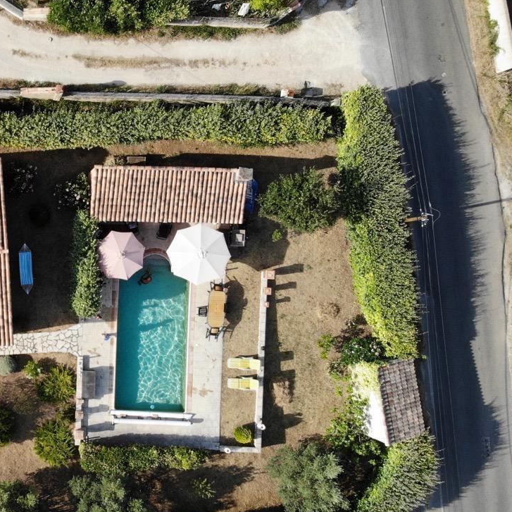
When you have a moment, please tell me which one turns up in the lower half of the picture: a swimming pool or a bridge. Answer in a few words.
swimming pool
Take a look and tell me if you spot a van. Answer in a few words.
No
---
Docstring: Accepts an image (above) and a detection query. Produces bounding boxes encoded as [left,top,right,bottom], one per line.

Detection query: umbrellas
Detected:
[97,233,143,280]
[166,226,226,284]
